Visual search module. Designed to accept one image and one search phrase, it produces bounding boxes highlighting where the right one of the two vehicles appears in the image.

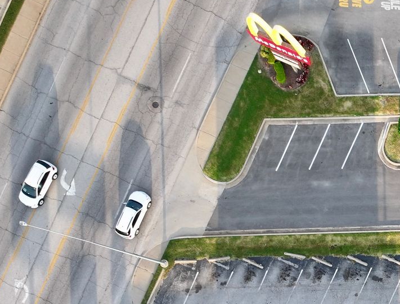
[116,194,150,238]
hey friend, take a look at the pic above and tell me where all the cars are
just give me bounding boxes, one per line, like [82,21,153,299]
[20,160,58,206]
[116,194,150,238]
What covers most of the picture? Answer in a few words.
paved ground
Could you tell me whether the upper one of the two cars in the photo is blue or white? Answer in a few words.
white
